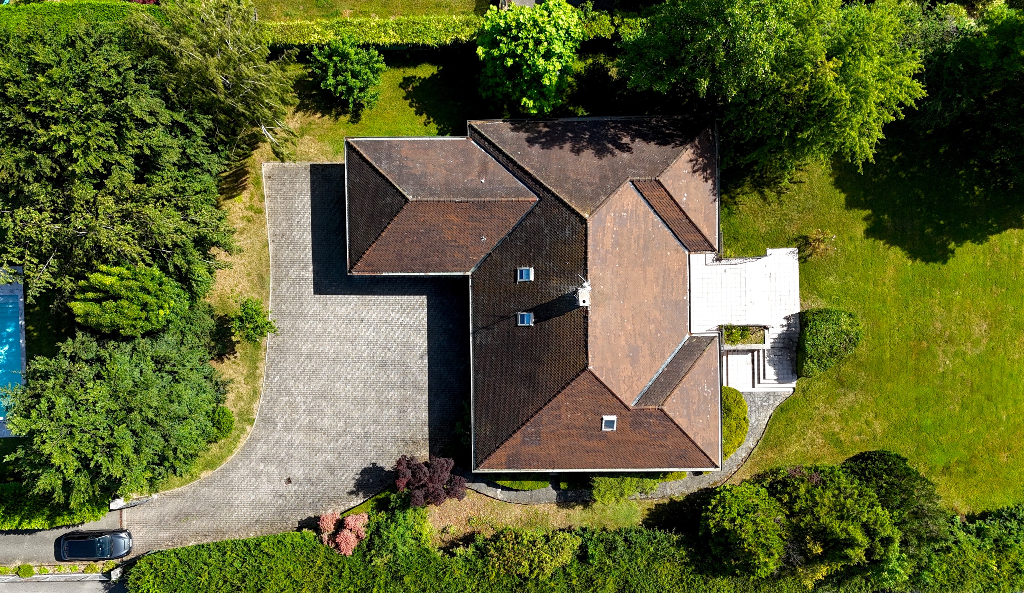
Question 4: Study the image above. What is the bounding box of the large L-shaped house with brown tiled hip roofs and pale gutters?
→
[342,115,725,478]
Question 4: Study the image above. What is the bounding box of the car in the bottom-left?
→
[54,526,131,566]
